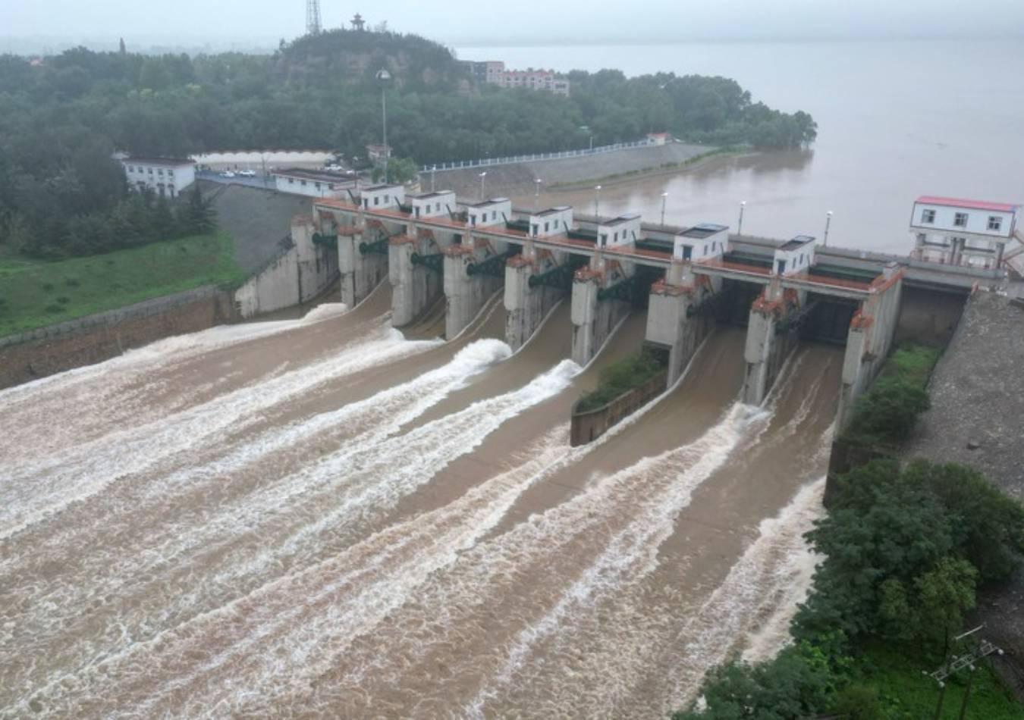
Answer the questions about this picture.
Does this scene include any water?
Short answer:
Yes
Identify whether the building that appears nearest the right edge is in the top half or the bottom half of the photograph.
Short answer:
top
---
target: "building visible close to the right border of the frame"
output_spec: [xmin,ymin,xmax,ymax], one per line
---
[901,189,1024,276]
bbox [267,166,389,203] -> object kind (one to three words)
building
